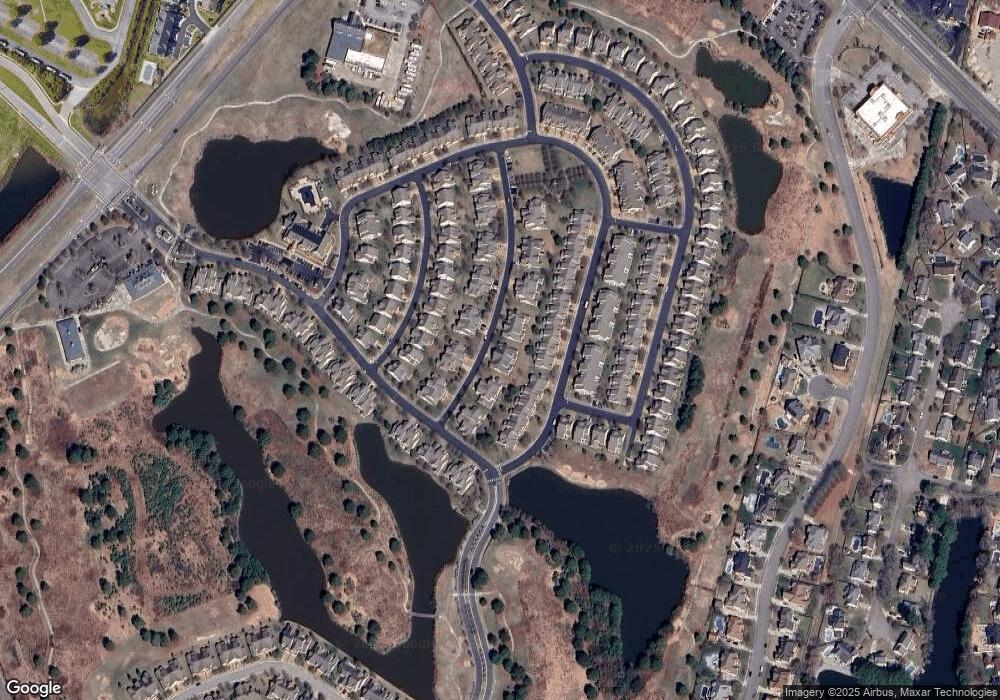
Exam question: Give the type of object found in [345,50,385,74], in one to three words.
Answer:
building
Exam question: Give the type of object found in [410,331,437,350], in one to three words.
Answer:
house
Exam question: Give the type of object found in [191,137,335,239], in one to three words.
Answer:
pond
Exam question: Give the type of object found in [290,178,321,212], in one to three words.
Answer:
swimming pool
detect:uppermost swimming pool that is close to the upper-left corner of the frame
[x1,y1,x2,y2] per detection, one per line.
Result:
[142,62,156,83]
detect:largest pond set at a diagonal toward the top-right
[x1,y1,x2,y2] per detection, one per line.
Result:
[695,47,770,108]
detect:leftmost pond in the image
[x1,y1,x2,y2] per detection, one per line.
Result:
[0,149,60,243]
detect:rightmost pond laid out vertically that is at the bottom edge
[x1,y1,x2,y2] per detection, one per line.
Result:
[913,516,984,700]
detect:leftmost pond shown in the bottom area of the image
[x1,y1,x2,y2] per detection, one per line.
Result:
[508,468,689,664]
